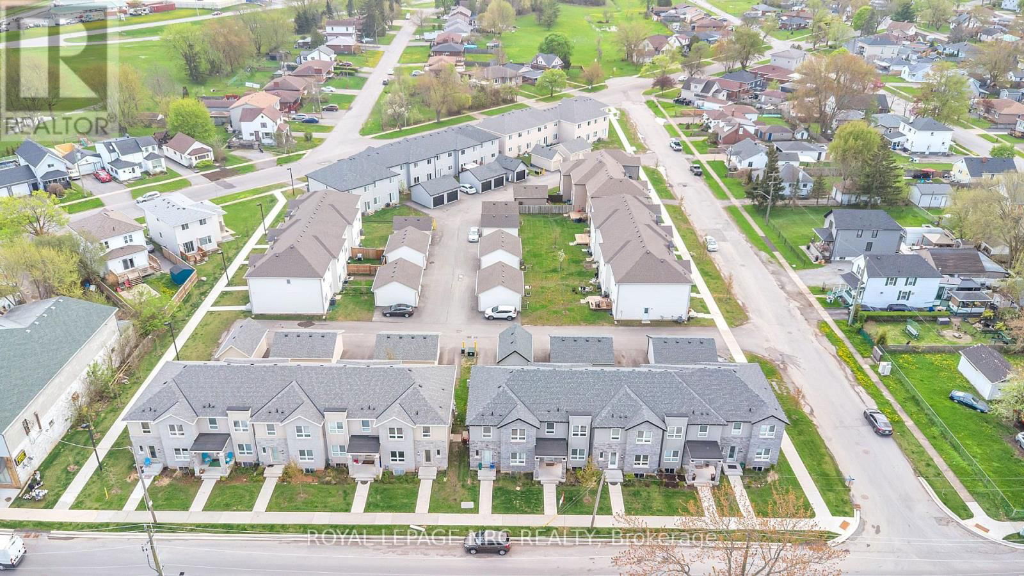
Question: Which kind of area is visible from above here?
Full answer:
The area seen from above is a residential area.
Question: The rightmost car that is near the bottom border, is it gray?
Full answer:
Yes, the rightmost car that is near the bottom border is indeed gray.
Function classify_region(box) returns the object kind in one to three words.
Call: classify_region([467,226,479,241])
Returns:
vehicle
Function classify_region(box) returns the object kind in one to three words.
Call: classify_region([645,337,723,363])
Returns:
building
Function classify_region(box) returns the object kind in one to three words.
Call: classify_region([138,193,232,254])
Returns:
house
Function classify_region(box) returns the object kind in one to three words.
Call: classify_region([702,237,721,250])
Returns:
vehicle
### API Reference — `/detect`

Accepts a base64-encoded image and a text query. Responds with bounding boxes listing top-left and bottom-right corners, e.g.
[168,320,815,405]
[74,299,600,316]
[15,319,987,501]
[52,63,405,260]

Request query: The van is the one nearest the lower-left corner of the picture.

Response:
[0,528,35,567]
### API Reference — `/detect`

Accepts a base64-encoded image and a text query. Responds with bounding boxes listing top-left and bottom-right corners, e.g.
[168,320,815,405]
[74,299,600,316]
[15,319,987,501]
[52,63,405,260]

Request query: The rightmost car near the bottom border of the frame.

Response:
[462,529,512,556]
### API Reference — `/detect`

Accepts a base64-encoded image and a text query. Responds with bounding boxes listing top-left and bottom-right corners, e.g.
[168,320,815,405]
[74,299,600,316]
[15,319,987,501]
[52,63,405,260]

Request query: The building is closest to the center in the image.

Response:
[476,259,523,307]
